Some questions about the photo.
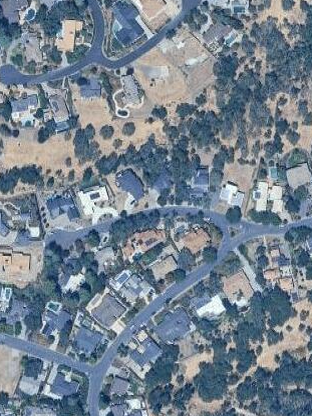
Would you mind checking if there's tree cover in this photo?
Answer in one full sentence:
Yes, there's tree cover in this view.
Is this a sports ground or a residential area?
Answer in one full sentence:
This looks like a residential area.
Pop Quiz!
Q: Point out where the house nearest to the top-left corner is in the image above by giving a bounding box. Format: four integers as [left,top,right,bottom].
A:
[2,0,32,23]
